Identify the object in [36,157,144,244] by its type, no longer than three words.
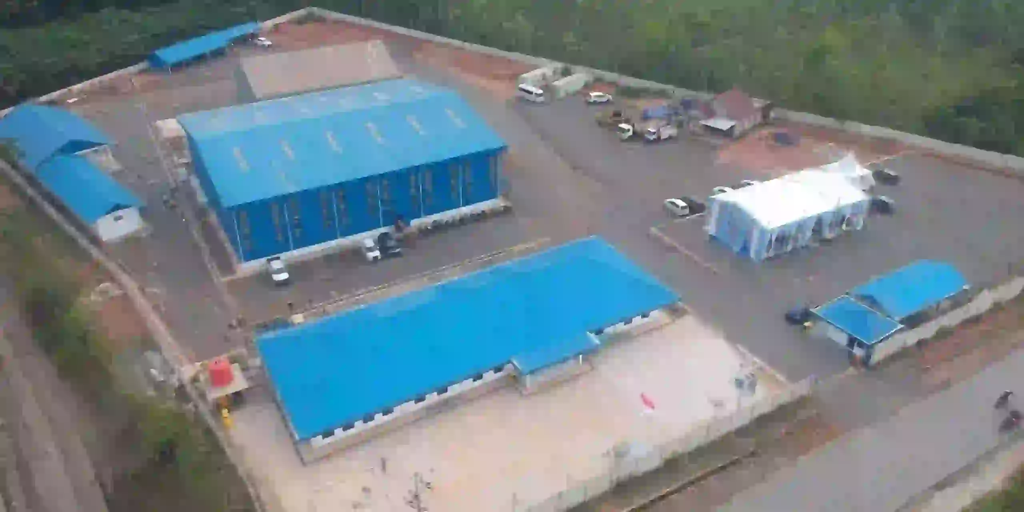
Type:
building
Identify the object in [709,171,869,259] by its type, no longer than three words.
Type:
tent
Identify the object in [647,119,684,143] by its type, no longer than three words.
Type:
truck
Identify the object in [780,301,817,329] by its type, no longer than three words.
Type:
car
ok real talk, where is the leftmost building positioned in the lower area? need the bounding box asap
[252,235,680,467]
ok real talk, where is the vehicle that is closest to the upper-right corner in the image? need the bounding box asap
[869,164,906,187]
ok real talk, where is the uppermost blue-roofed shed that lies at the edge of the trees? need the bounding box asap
[137,19,262,79]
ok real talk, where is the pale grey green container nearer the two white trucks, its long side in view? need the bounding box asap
[548,69,585,97]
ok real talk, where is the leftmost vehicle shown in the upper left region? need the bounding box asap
[250,35,274,47]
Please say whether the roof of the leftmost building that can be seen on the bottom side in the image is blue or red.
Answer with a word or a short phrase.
blue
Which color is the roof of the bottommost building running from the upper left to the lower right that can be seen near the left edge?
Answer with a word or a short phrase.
blue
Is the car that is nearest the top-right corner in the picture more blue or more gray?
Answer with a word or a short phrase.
gray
